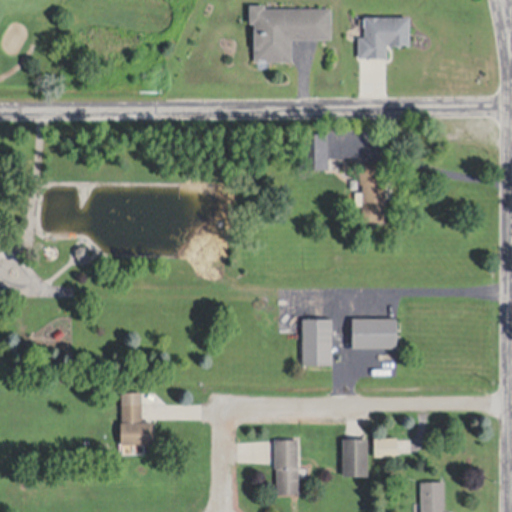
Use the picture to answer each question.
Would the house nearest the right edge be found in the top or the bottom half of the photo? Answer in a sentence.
The house nearest the right edge is in the bottom half of the image.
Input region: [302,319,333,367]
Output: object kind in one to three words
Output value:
barn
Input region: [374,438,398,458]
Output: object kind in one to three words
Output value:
house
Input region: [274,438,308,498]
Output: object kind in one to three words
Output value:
house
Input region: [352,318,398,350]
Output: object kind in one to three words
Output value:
barn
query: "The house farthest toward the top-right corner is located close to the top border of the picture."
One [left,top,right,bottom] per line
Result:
[358,16,412,58]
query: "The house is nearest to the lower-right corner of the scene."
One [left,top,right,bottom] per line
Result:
[416,480,446,512]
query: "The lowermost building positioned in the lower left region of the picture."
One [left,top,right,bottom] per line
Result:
[120,394,153,458]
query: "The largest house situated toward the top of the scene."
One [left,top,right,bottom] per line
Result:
[249,4,332,62]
